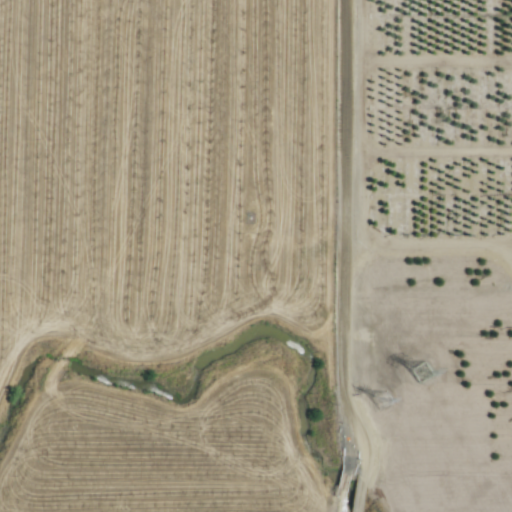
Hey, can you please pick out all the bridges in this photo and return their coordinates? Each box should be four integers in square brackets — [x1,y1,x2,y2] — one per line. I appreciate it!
[336,446,360,491]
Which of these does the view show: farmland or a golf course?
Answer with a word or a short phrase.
farmland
